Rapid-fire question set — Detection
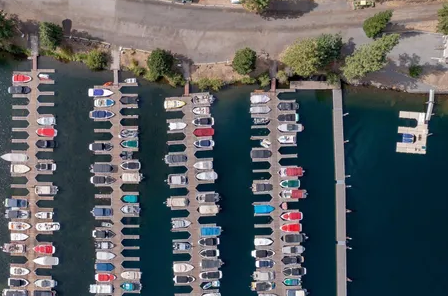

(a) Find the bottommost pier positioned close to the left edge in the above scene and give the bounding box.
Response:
[9,69,56,296]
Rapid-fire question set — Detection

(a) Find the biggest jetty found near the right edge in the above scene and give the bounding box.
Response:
[395,111,429,154]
